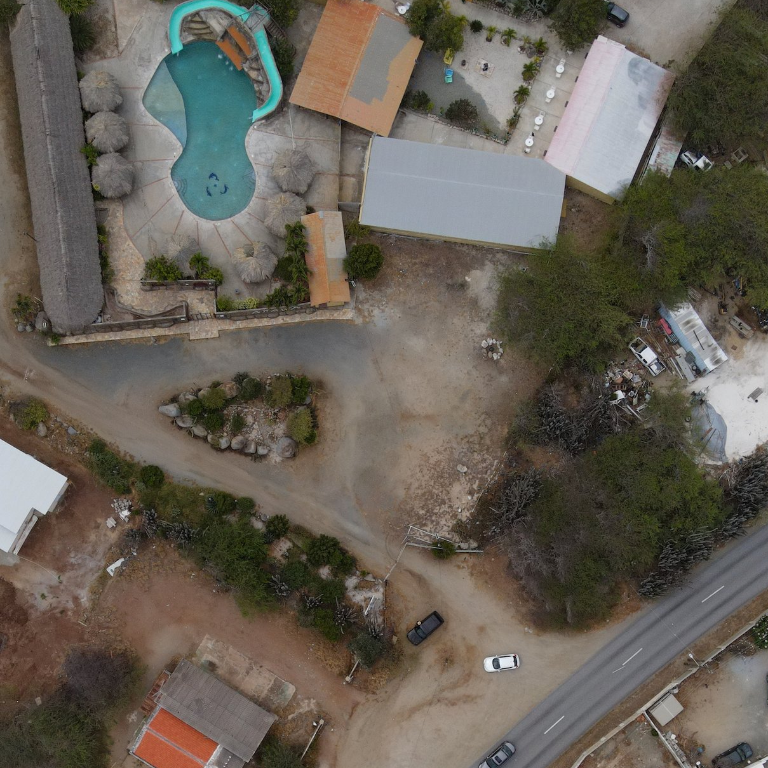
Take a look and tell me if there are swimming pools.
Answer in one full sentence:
Yes, the frame does contain a swimming pool.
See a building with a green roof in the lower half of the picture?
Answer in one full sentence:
No, no building with a green roof is visible in the lower half of the picture.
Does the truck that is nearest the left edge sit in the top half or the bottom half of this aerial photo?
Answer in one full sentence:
The bottom half of the photo is where the truck that is nearest the left edge is.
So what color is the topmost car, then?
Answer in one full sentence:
The topmost car is black.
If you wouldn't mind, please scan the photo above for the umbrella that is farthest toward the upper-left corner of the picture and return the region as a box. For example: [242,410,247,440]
[80,69,129,114]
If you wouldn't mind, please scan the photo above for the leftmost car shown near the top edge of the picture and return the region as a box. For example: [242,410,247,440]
[600,1,632,29]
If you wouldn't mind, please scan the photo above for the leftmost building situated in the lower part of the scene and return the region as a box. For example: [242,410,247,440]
[0,433,82,554]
